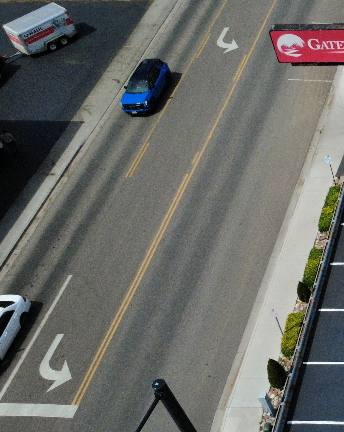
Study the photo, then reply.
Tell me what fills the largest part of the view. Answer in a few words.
paved ground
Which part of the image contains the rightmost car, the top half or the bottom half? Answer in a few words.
top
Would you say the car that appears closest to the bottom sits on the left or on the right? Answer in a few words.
left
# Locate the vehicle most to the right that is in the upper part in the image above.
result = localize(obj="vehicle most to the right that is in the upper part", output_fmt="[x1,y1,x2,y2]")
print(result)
[117,61,169,113]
